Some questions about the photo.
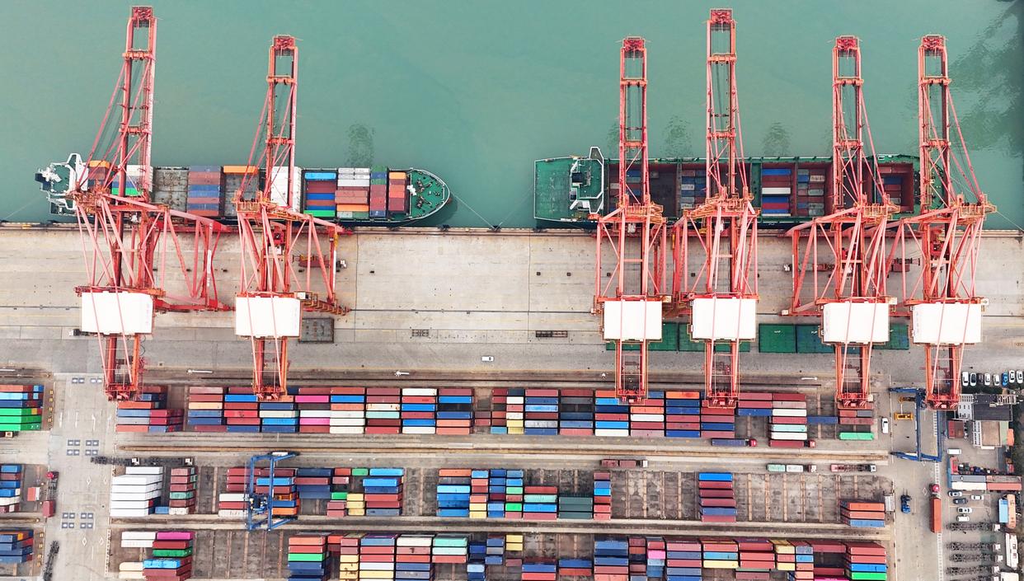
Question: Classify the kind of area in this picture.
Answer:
port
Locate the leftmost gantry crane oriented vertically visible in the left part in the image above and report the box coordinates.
[75,6,237,407]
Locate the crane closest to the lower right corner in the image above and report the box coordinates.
[889,387,944,462]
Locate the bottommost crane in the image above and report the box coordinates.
[242,451,300,532]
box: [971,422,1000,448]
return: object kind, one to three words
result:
building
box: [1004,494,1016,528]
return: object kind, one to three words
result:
vehicle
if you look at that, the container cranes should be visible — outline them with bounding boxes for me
[75,6,237,407]
[229,33,360,408]
[583,36,674,412]
[861,39,1009,415]
[889,387,944,462]
[242,451,300,532]
[772,39,910,414]
[663,12,758,413]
